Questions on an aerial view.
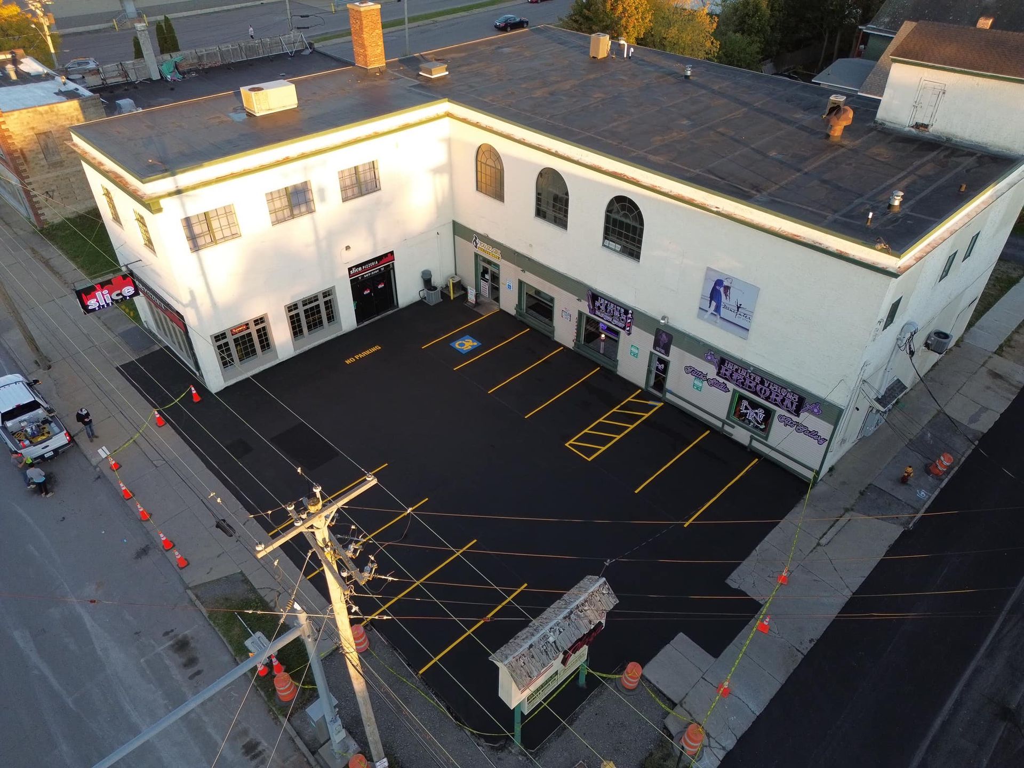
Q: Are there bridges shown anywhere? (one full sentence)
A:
No, no bridge is visible in the view.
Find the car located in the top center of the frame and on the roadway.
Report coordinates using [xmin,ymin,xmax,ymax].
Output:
[498,11,522,26]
